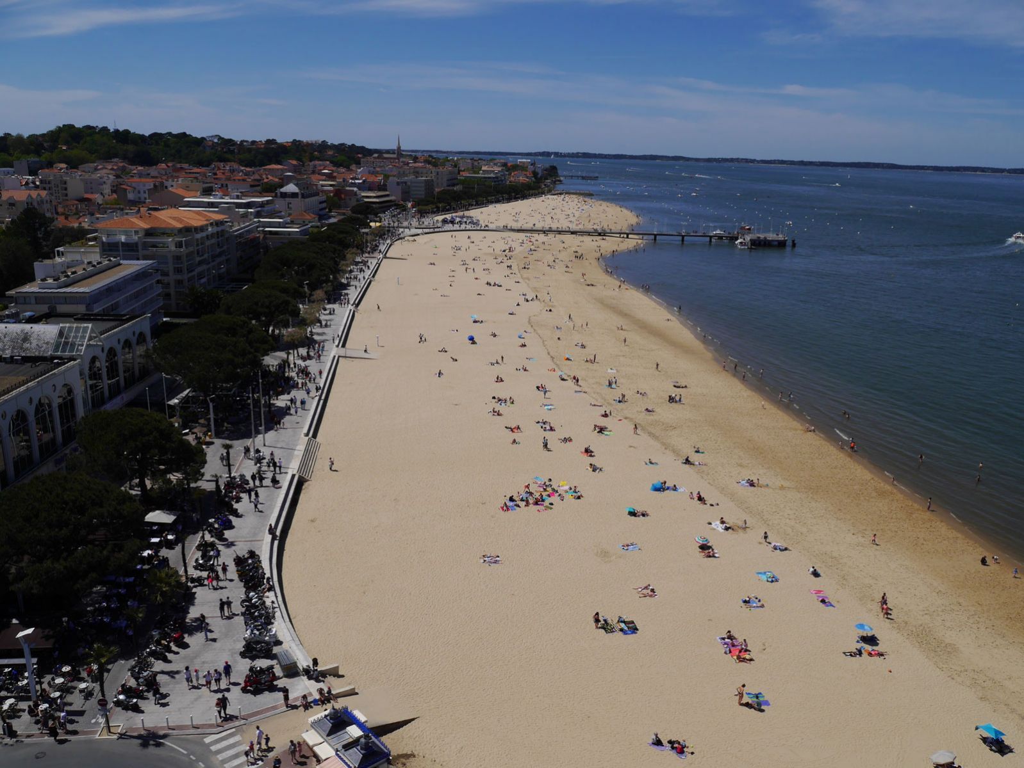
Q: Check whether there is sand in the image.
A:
Yes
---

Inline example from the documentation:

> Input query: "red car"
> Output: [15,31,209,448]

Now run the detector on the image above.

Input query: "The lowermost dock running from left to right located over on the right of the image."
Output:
[487,214,787,250]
